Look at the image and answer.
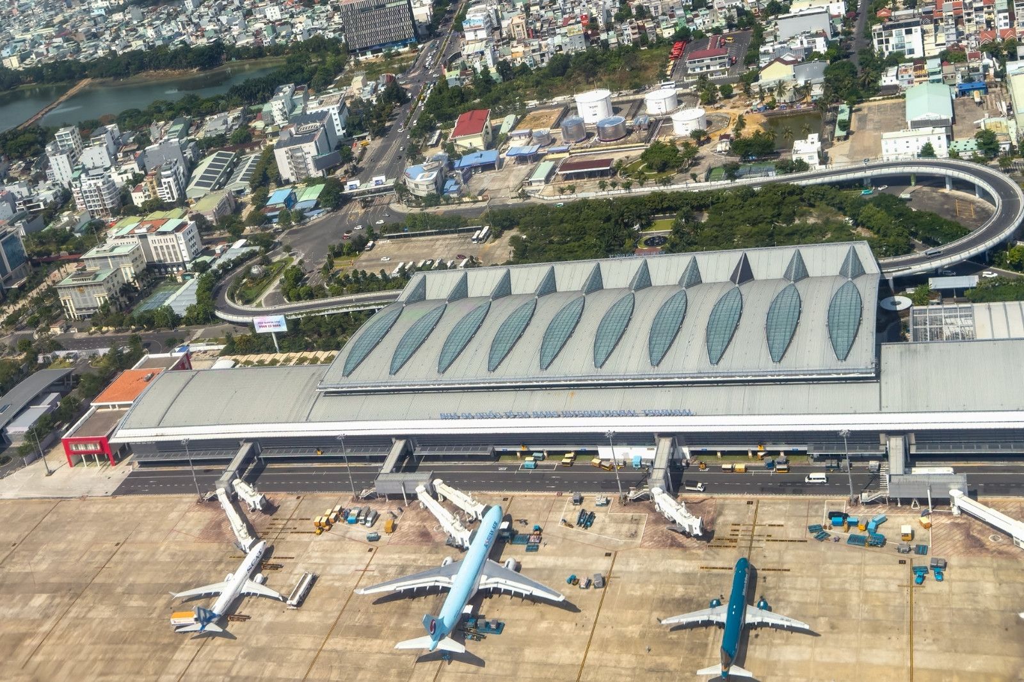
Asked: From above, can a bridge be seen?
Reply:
Yes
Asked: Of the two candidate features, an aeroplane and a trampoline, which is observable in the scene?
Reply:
aeroplane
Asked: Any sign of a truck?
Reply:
Yes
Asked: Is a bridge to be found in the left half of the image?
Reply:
Yes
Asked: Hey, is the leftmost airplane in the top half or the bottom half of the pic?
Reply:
bottom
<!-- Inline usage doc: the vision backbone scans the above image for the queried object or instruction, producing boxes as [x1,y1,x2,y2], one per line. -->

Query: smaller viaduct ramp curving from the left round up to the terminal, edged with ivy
[211,267,395,324]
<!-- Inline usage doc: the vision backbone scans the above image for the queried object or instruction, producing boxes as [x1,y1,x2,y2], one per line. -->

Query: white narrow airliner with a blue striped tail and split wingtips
[168,543,286,629]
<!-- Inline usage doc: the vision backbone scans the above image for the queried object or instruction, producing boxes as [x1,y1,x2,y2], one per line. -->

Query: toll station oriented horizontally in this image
[332,179,399,206]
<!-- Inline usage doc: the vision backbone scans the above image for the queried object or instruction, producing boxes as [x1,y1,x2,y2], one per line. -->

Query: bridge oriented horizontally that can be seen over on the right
[512,157,1024,284]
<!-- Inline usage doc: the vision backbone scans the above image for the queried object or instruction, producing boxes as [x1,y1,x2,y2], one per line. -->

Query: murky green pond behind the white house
[755,112,832,148]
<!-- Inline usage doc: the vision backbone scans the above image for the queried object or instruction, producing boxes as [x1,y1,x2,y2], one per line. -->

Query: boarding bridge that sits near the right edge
[947,486,1024,553]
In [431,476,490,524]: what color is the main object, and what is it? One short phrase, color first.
white jet bridge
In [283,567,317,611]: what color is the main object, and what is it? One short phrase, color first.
white truck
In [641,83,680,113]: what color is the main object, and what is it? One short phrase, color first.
white storage tank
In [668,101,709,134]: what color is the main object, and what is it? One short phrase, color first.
white storage tank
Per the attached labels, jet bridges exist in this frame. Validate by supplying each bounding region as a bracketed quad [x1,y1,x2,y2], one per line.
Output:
[431,476,490,524]
[947,486,1024,553]
[413,483,474,550]
[235,477,273,519]
[648,487,710,543]
[214,489,258,551]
